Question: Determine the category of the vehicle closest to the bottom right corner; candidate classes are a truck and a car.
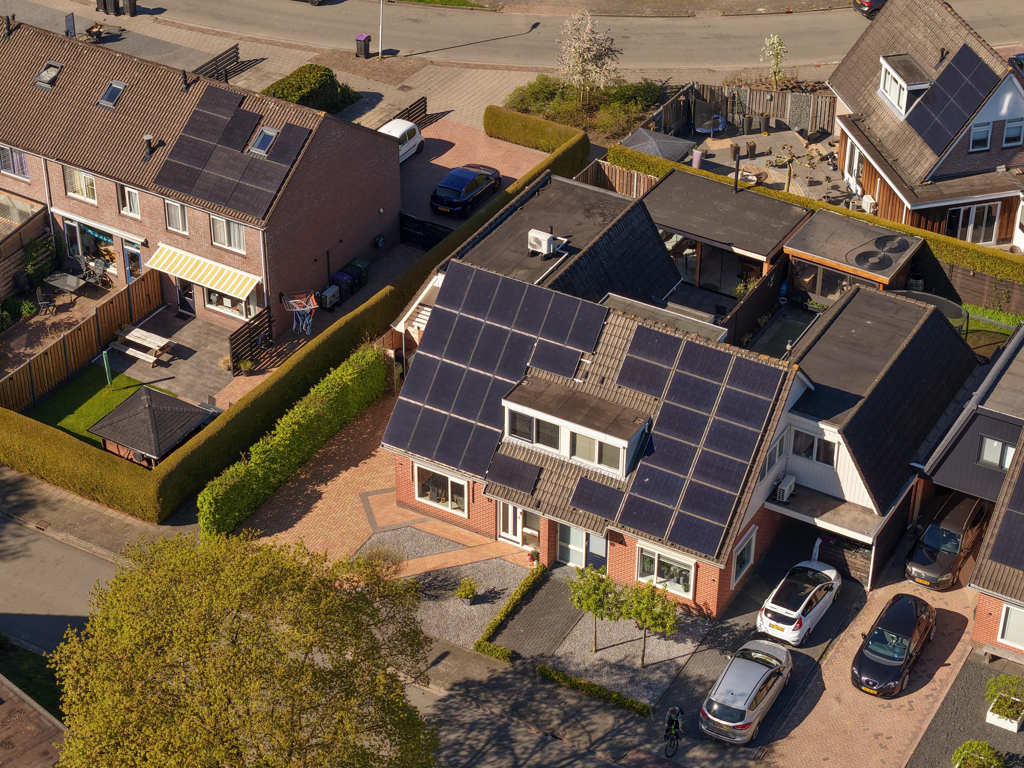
car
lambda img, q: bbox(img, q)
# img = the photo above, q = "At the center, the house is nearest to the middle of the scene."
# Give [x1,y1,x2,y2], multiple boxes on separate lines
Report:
[373,256,825,622]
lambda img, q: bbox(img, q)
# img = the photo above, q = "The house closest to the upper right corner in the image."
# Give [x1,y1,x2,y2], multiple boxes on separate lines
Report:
[824,0,1024,253]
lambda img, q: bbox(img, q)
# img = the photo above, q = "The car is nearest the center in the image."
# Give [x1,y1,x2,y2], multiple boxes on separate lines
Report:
[424,160,503,220]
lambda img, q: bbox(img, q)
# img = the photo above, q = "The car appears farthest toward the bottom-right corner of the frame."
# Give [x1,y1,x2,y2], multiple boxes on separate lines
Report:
[848,585,942,695]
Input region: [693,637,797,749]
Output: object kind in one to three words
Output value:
car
